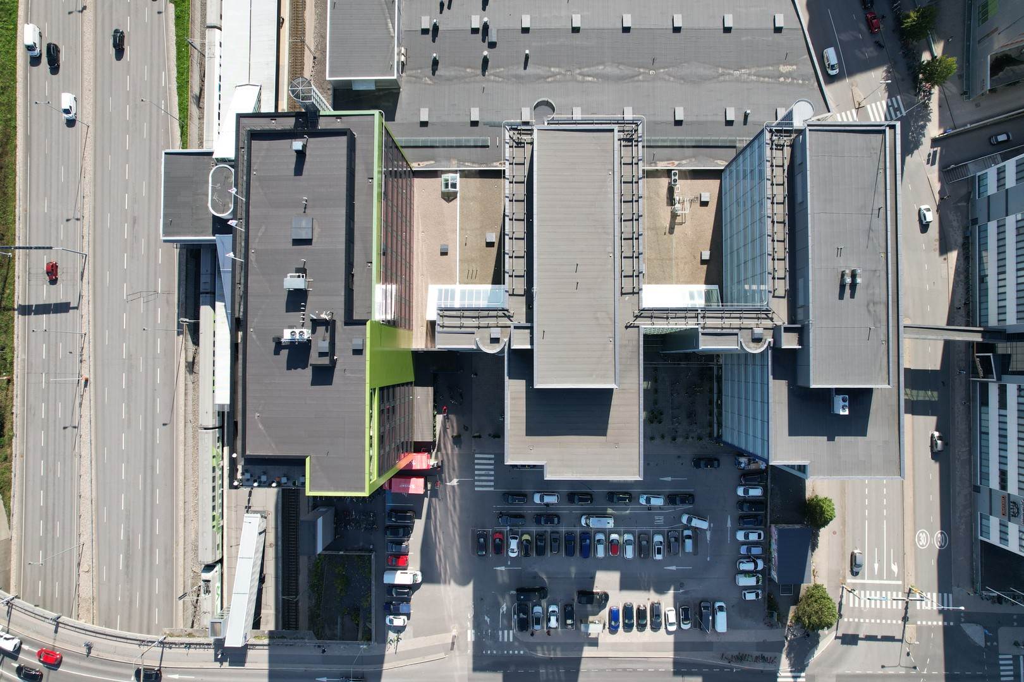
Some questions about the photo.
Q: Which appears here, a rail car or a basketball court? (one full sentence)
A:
There is a rail car in the scene.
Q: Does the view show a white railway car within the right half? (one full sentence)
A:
No, there's no white railway car to be seen within the right half.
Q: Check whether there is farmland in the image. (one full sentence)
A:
No, there is no farmland in the image.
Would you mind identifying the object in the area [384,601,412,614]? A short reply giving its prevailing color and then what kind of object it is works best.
blue vehicle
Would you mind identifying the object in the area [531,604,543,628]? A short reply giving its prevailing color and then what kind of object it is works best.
blue vehicle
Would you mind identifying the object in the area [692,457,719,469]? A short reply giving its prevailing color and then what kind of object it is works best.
black vehicle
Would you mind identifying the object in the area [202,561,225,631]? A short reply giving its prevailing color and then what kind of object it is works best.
white rail car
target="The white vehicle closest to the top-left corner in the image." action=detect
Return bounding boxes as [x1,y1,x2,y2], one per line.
[25,26,41,54]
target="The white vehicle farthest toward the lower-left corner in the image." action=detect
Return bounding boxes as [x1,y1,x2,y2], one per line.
[0,631,22,653]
